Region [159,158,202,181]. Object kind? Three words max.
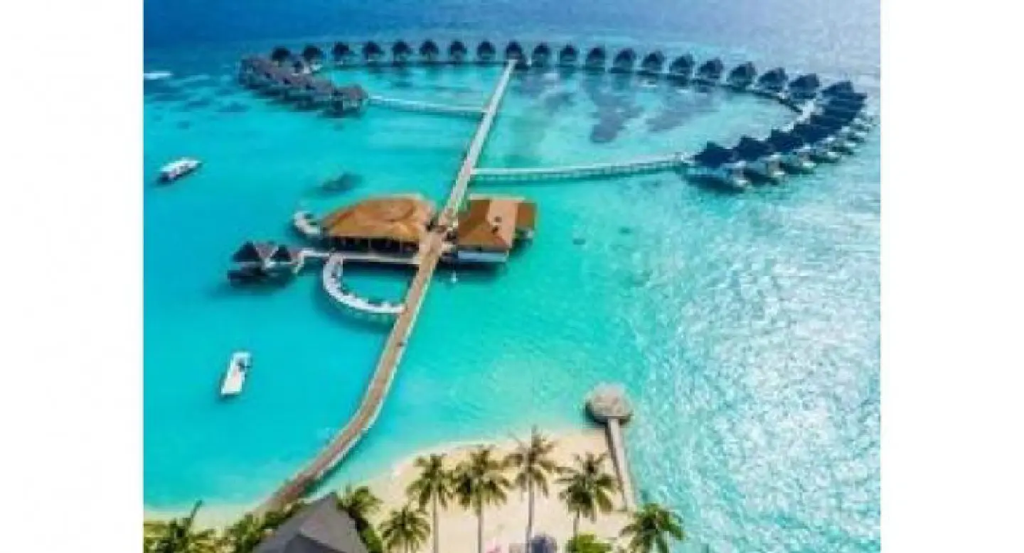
boat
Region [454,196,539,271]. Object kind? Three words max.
building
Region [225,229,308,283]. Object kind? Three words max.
shed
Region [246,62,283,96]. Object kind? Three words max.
house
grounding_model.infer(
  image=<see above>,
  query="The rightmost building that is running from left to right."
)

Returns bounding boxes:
[810,84,879,122]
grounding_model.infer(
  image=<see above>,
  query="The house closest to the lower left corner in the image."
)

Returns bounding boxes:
[258,490,371,553]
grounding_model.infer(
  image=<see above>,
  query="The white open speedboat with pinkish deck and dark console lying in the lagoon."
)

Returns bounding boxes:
[221,351,255,401]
